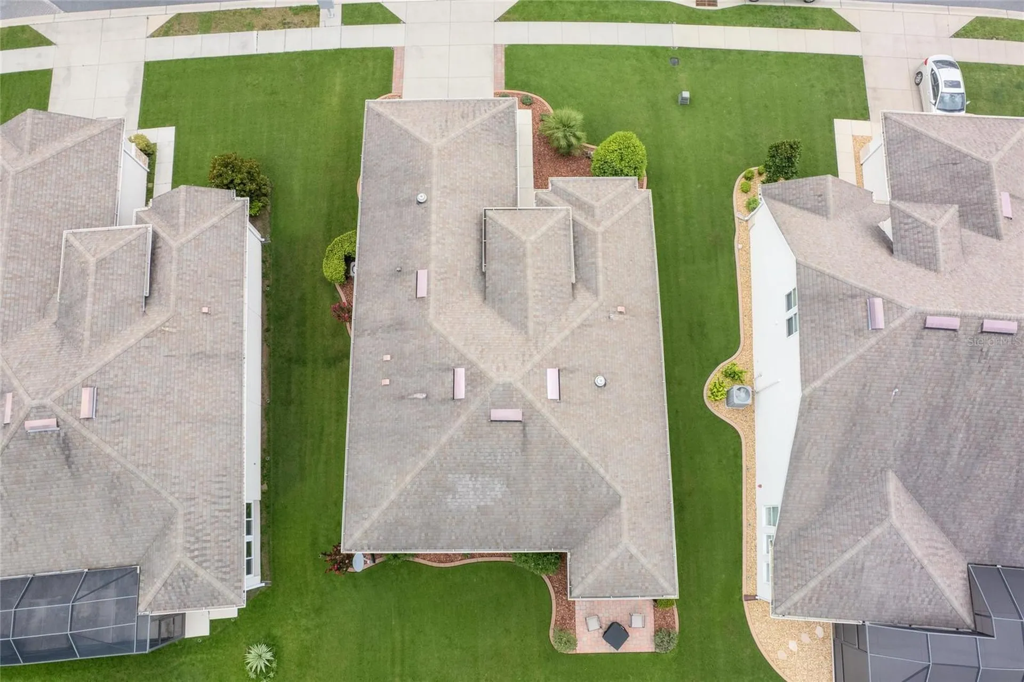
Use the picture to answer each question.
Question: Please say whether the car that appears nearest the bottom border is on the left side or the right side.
right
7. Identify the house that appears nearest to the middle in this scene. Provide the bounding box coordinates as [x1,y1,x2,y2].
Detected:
[341,98,678,599]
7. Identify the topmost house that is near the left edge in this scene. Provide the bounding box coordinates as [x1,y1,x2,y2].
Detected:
[0,110,269,615]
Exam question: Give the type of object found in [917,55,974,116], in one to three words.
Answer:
car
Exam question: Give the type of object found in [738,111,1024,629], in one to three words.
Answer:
house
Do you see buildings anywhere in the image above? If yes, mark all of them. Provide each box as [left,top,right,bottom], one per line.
[341,98,678,599]
[0,110,269,615]
[738,111,1024,629]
